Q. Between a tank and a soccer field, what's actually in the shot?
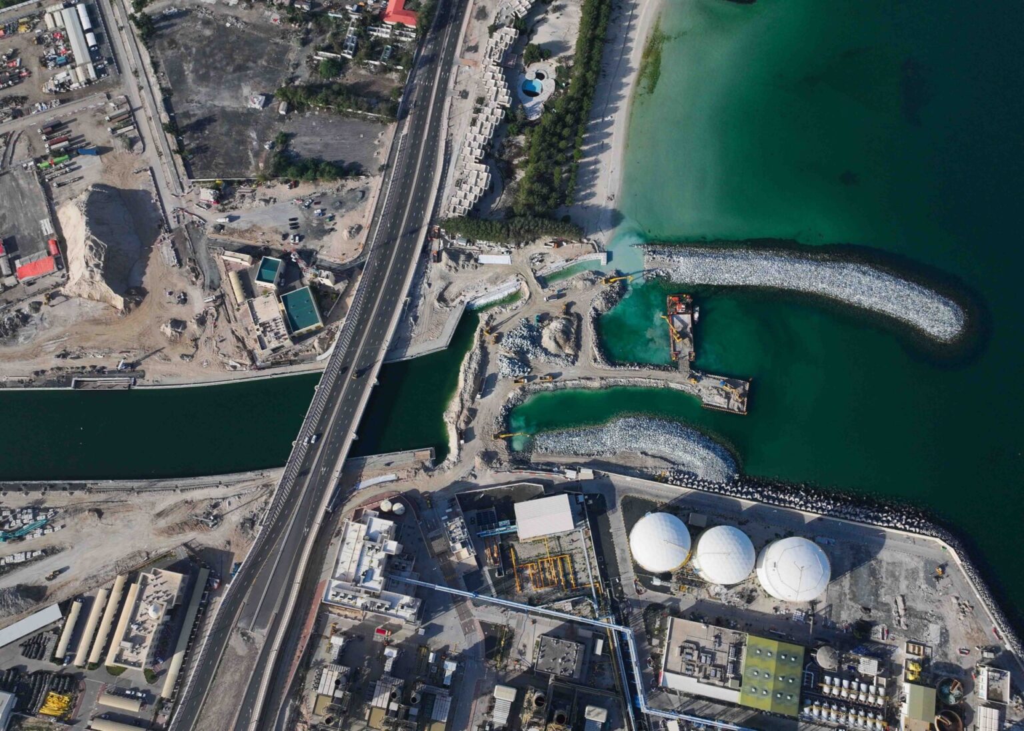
tank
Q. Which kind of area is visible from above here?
port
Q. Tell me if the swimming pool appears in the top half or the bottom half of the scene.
top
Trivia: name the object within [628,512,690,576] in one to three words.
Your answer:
storage tank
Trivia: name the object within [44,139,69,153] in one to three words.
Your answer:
vehicle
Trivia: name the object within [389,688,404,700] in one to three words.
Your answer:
chimney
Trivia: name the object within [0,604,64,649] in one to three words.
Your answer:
building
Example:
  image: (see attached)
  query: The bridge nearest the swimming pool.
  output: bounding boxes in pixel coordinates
[169,0,473,731]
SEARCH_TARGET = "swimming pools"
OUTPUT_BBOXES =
[514,67,551,120]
